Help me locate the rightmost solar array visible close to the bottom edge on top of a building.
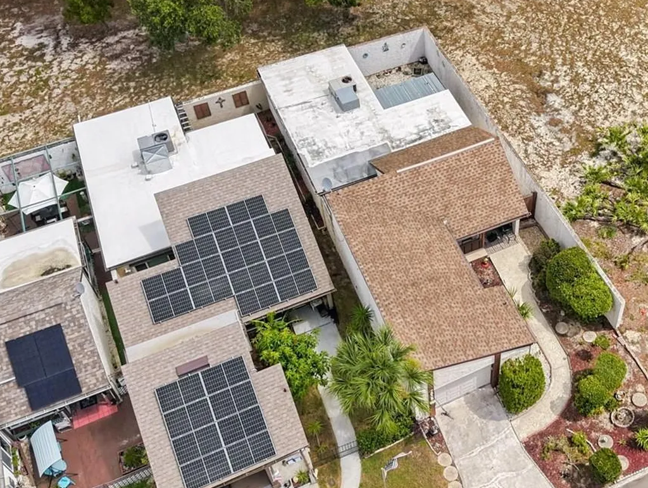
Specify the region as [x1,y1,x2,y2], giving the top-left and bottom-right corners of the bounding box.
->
[160,357,281,488]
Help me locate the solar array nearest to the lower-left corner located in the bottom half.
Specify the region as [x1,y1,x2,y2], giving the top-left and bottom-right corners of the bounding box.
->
[6,315,90,412]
